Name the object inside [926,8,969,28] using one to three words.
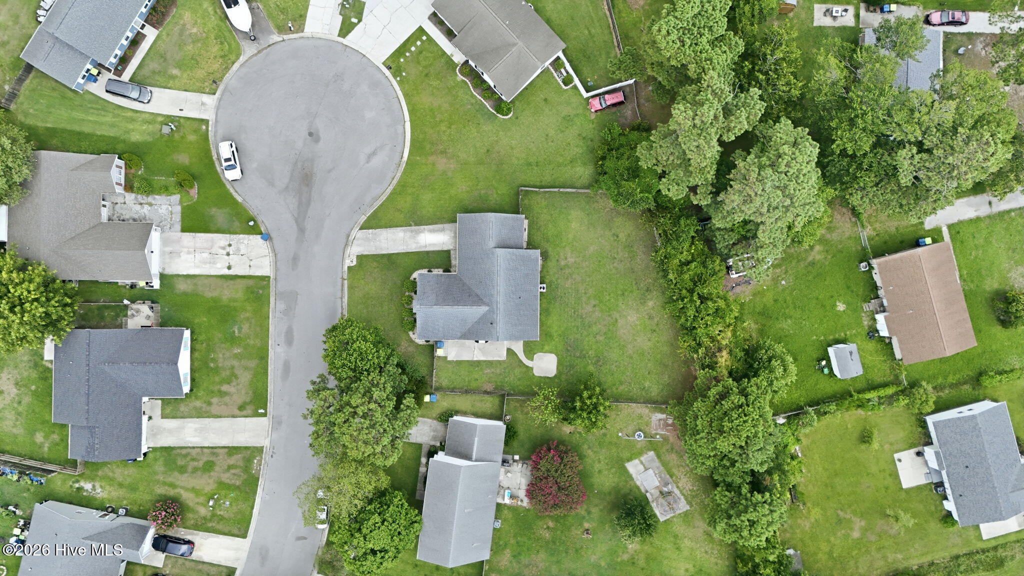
car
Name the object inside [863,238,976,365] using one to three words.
house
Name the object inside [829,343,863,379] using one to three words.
shed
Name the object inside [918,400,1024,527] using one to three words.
house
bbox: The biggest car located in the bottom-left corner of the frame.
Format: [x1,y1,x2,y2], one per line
[151,532,197,558]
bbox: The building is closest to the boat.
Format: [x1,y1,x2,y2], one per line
[20,0,158,91]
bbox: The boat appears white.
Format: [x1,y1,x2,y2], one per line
[225,0,252,32]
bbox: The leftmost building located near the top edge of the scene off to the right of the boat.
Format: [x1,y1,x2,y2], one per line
[425,0,566,104]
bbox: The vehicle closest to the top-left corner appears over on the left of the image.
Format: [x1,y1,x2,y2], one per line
[105,79,153,106]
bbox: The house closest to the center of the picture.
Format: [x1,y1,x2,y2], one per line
[414,212,541,343]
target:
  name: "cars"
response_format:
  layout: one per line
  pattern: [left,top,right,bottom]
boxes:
[219,139,243,182]
[926,8,969,28]
[588,90,626,113]
[151,532,197,558]
[105,79,153,106]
